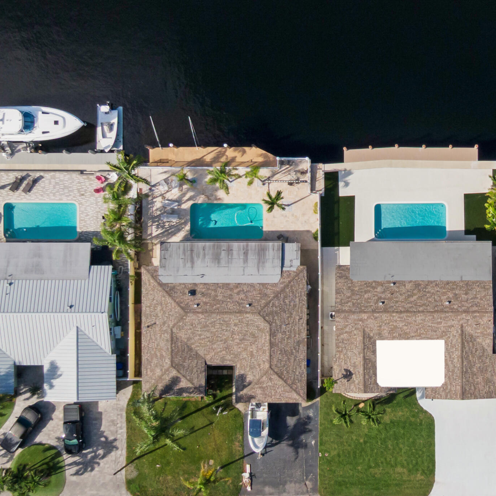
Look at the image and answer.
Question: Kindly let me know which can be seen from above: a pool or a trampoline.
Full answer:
The one in the frame is a pool.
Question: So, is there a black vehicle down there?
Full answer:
Yes, the frame does contain a black vehicle.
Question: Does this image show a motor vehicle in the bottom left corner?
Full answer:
Yes, there is a motor vehicle in the bottom left corner.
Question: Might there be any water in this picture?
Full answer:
Yes, water shows up in the scene.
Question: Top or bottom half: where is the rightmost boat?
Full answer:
It is in the bottom half that the rightmost boat appears.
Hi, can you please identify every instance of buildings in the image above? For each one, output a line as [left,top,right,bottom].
[0,243,120,402]
[332,241,496,400]
[141,242,307,404]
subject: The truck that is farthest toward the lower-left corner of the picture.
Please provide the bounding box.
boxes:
[0,402,42,455]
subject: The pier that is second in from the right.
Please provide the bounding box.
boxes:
[145,144,276,166]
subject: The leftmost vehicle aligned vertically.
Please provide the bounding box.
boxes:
[61,403,85,455]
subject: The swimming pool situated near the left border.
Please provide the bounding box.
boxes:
[0,199,80,242]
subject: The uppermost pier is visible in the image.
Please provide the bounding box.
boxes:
[97,108,123,150]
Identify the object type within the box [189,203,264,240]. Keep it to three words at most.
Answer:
swimming pool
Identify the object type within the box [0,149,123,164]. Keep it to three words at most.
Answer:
pier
